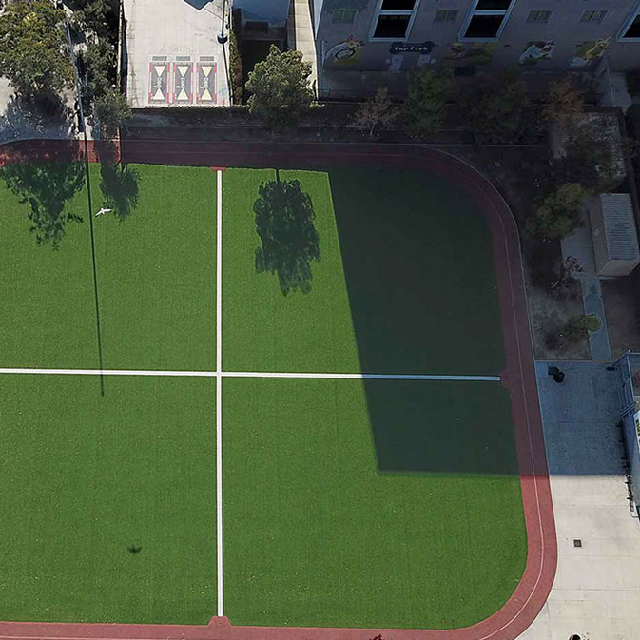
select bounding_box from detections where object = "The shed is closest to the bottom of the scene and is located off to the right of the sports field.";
[591,191,640,274]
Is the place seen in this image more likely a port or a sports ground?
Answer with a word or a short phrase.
sports ground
